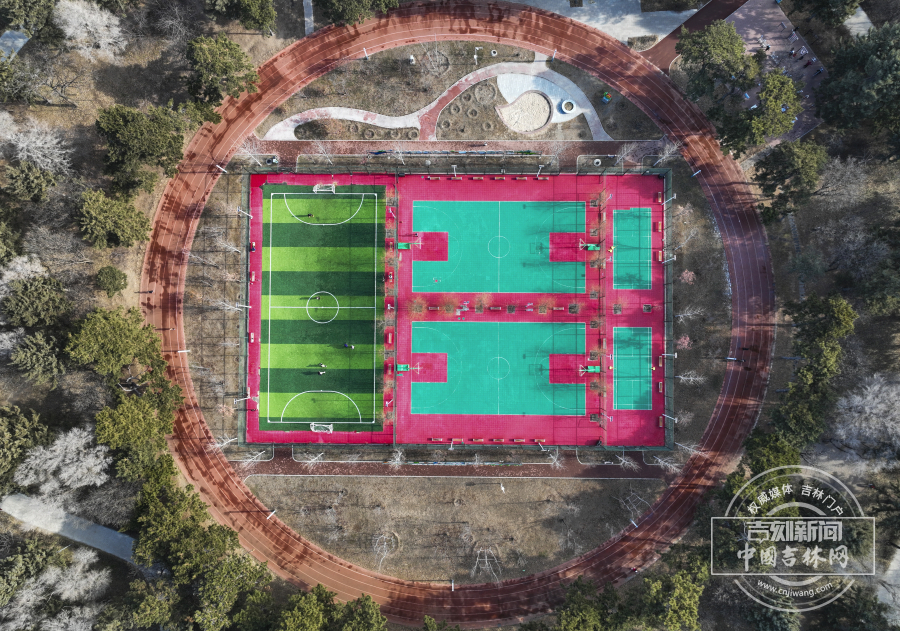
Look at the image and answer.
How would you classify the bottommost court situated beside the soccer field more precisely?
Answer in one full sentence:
The bottommost court situated beside the soccer field can be classified as a basketball court.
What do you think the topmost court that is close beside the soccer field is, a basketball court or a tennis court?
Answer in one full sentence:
From above, the topmost court that is close beside the soccer field can be identified as a basketball court.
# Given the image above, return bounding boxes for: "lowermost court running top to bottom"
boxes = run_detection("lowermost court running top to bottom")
[613,328,652,410]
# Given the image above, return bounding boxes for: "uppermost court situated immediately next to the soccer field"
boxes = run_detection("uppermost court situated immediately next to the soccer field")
[412,200,587,294]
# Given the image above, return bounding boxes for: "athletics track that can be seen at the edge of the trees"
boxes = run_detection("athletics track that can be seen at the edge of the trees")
[142,0,773,627]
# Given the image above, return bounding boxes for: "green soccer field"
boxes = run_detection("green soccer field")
[259,185,386,431]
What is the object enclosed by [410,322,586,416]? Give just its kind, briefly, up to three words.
basketball court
